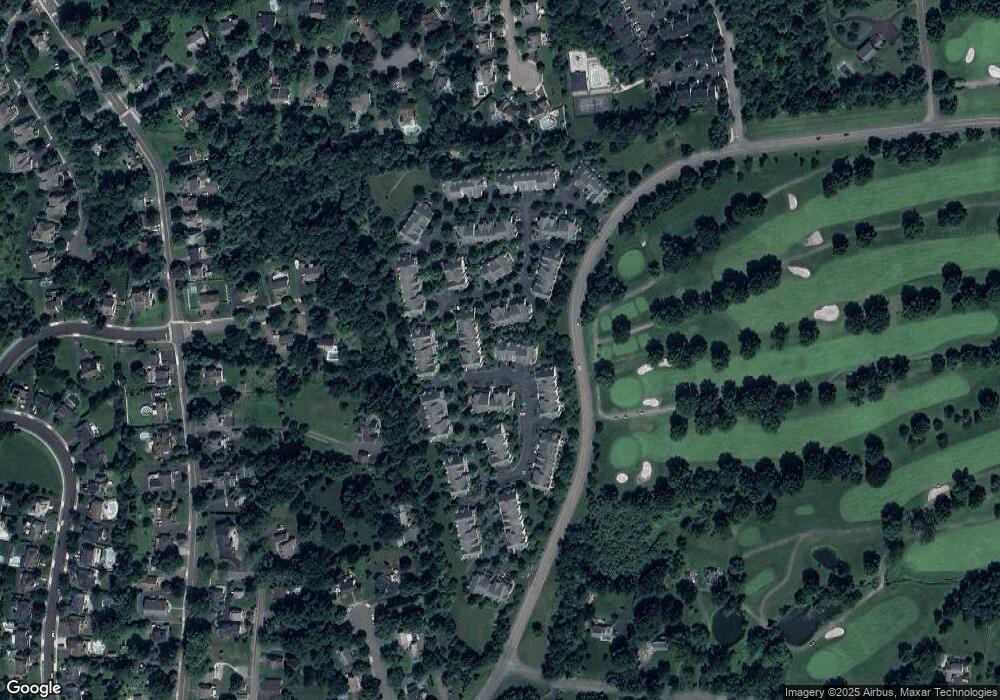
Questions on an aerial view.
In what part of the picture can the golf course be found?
right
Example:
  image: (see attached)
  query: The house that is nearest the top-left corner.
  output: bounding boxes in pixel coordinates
[30,28,51,51]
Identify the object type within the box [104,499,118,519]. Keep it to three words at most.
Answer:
swimming pool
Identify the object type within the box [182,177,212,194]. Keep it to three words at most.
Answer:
house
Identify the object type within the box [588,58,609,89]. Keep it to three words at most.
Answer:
swimming pool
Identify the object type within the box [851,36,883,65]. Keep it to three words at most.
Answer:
barn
